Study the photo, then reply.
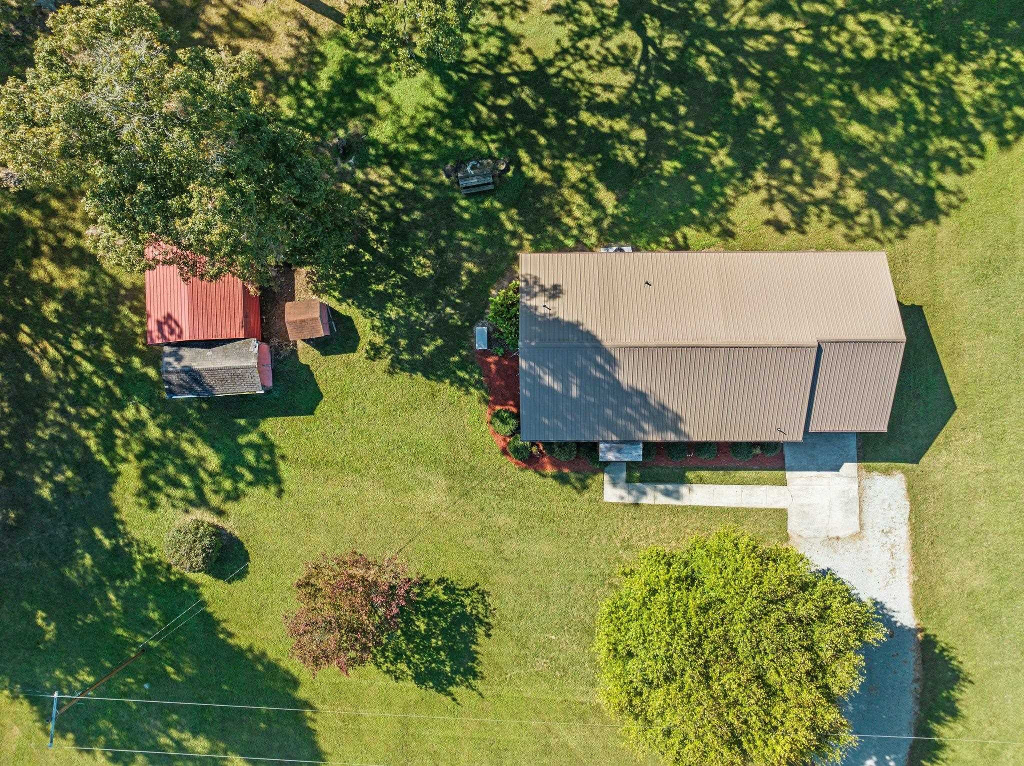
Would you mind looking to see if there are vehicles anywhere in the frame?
No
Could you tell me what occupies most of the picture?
grass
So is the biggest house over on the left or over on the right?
right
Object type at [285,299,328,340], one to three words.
shed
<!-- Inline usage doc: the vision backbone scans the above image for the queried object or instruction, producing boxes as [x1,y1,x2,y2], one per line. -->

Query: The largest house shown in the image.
[519,251,905,441]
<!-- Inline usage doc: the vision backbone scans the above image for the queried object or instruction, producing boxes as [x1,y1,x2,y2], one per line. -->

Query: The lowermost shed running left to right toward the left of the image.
[158,340,273,398]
